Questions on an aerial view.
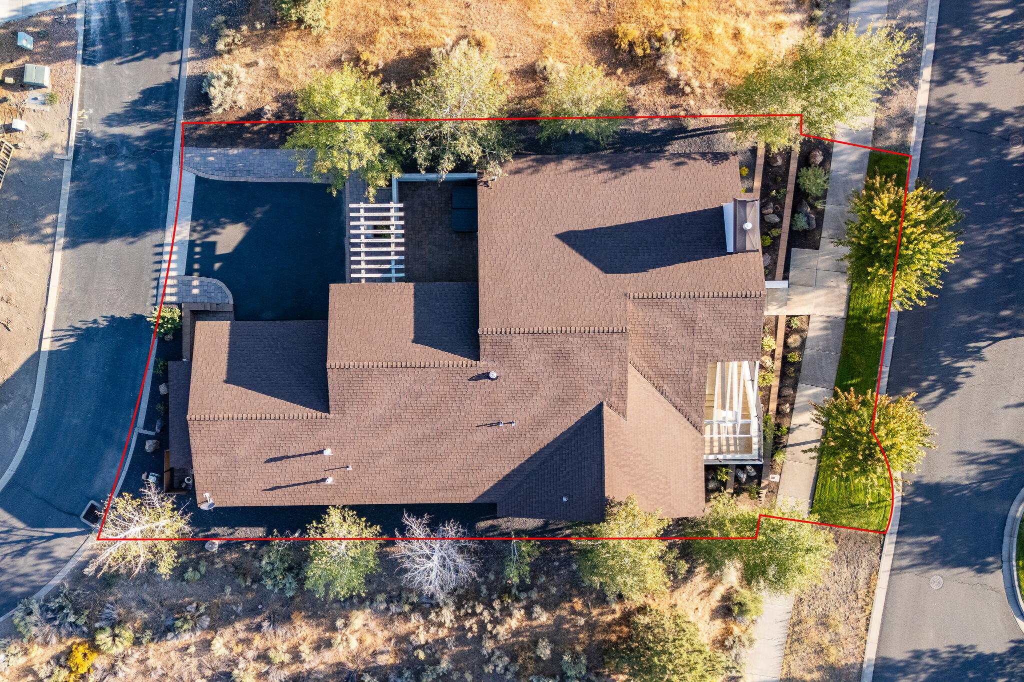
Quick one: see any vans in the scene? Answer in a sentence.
No, I can't see a single van in this photo.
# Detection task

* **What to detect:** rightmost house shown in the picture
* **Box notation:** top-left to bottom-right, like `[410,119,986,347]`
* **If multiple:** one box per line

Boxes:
[188,152,766,520]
